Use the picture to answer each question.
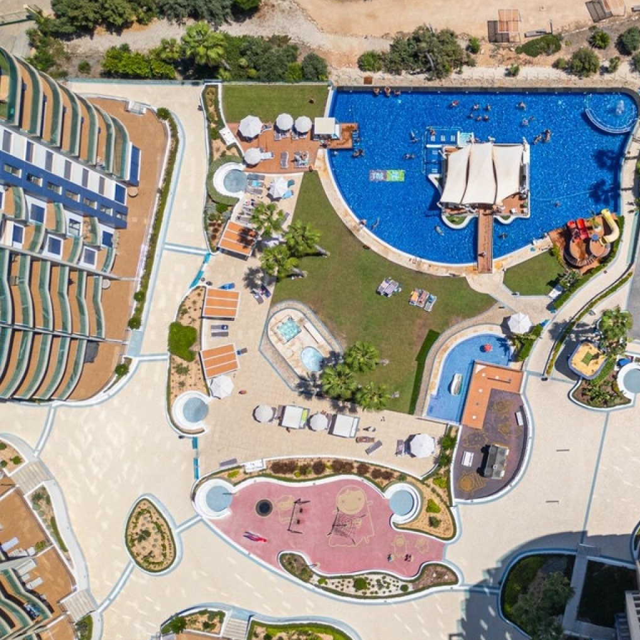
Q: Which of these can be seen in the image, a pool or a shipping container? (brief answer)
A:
pool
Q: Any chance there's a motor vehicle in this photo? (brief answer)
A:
No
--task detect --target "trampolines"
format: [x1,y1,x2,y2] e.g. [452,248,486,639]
[255,499,272,516]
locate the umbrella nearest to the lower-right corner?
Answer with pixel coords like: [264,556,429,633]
[409,431,436,458]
